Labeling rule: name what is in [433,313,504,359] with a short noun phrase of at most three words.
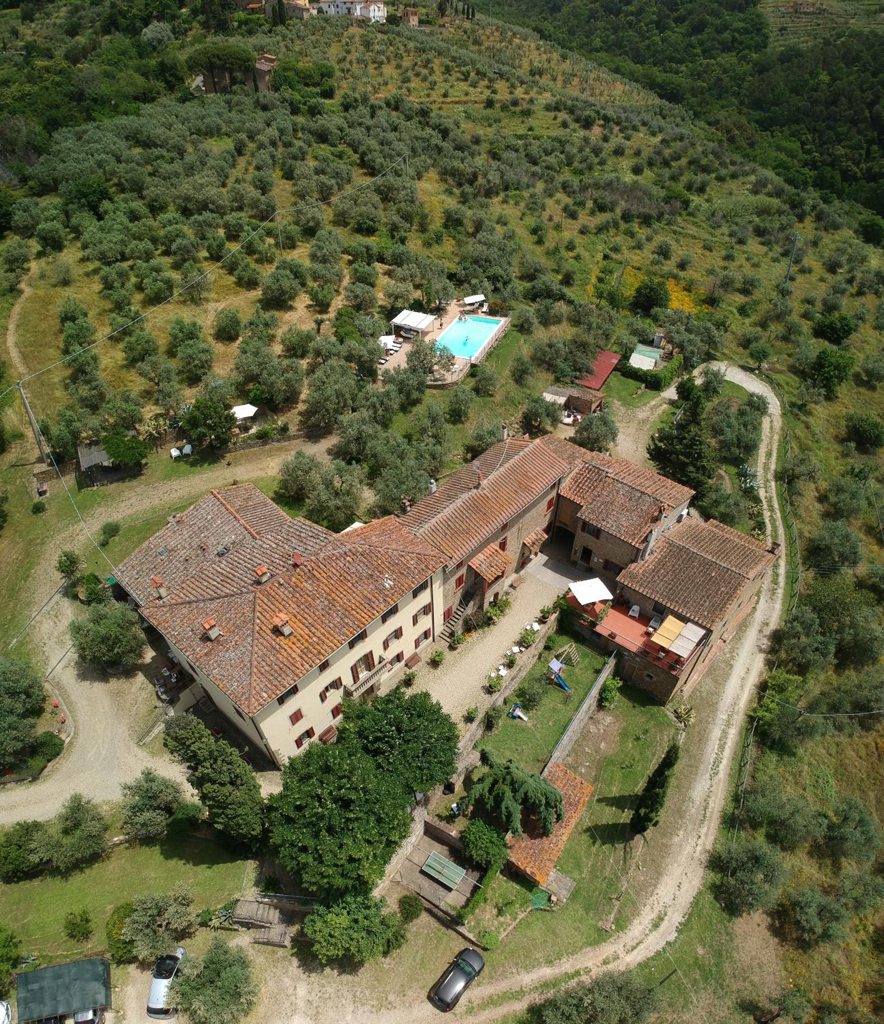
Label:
swimming pool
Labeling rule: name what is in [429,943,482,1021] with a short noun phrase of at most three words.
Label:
car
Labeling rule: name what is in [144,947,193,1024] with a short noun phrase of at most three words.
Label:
car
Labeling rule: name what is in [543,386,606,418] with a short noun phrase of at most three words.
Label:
shed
